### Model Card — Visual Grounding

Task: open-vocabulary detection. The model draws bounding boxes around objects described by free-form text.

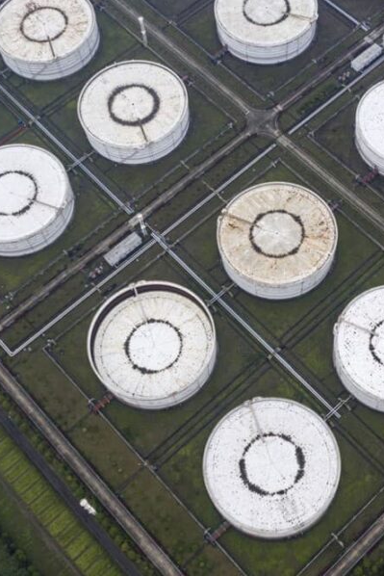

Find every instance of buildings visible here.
[103,229,144,265]
[350,39,384,70]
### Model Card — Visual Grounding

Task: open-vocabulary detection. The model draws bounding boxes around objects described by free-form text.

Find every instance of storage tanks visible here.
[202,395,343,543]
[0,143,77,259]
[85,279,219,411]
[0,0,102,81]
[215,180,339,302]
[331,283,384,414]
[213,0,322,66]
[75,58,192,167]
[352,79,384,178]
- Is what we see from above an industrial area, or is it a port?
industrial area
